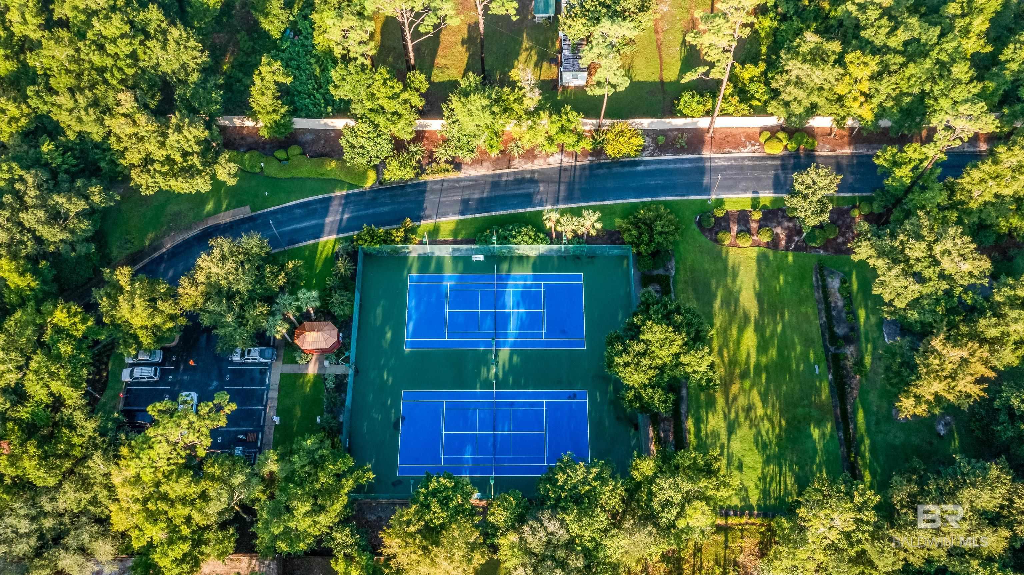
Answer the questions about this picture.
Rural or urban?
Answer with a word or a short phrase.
rural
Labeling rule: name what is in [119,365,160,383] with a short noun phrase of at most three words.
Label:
car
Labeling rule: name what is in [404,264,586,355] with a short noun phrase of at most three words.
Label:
tennis court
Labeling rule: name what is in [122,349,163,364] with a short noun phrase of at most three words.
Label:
car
